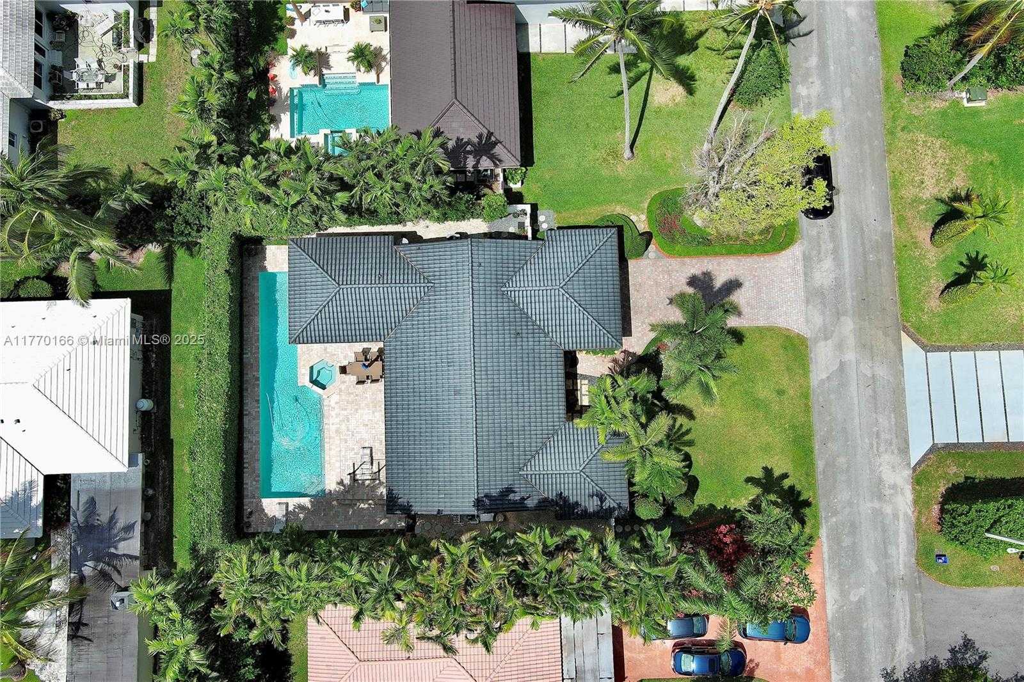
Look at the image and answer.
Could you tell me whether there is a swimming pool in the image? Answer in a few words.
Yes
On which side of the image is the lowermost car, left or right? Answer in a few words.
right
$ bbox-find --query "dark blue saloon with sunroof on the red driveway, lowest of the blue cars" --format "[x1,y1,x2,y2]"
[671,643,748,680]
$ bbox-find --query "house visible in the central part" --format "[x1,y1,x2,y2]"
[286,226,632,520]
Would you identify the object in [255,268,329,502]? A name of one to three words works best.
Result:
swimming pool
